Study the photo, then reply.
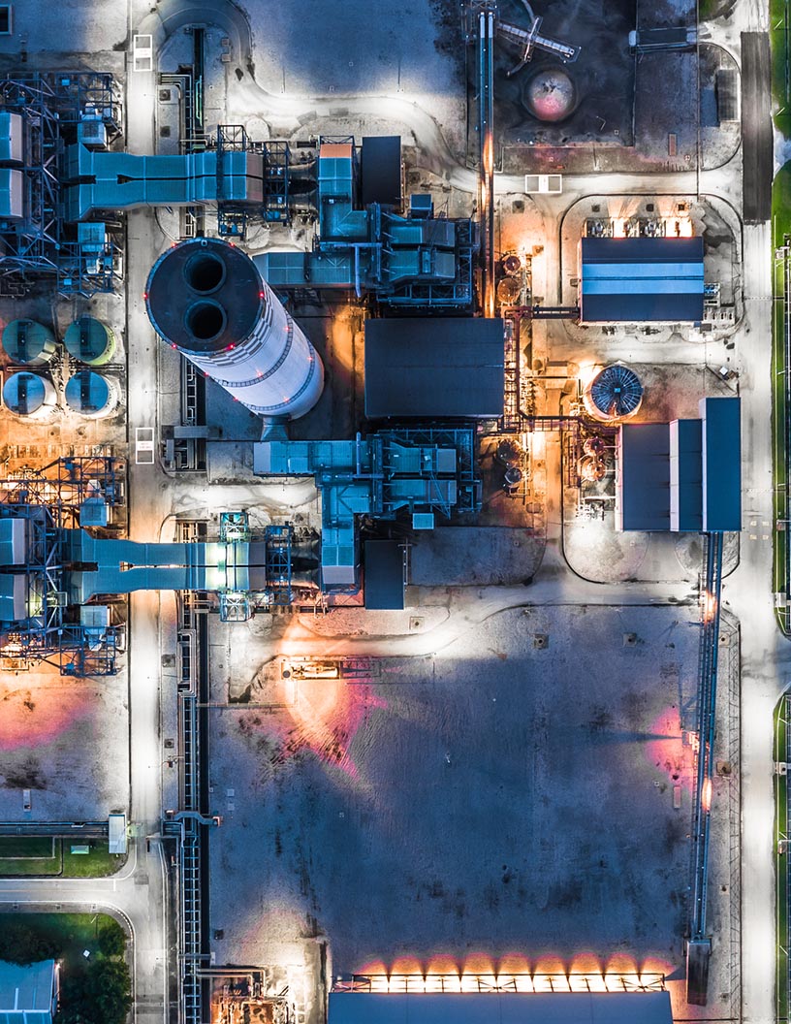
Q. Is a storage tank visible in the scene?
Yes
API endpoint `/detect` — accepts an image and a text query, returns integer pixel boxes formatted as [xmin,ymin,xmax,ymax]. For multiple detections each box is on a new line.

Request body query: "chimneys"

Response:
[142,229,325,423]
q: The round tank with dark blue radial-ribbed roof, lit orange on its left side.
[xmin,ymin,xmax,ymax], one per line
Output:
[583,363,647,424]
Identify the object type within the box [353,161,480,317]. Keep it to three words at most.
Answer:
house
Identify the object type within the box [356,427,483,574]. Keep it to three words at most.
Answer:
house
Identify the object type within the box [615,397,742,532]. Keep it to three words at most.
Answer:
building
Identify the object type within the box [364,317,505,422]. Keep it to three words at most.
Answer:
building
